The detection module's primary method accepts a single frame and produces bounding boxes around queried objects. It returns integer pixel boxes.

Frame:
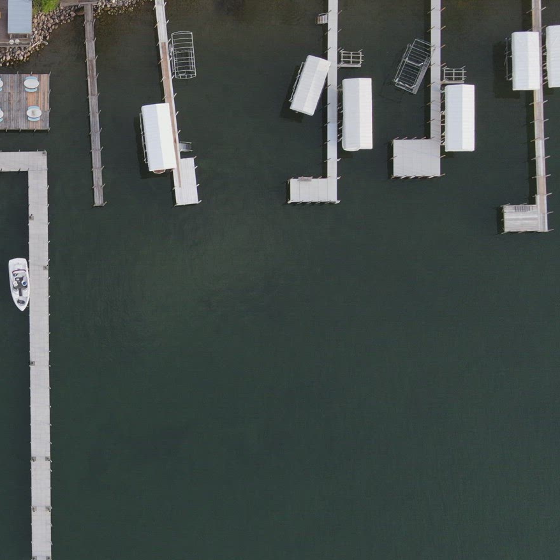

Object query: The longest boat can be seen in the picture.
[8,257,30,311]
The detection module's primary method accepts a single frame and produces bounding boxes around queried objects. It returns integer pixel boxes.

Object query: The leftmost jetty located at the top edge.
[83,5,104,207]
